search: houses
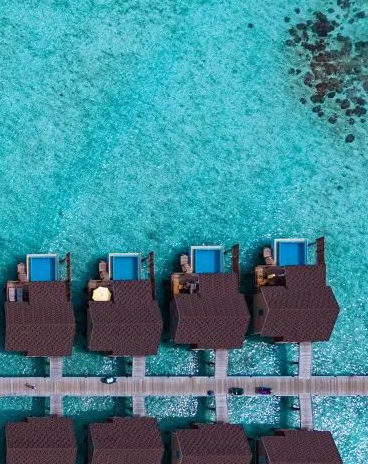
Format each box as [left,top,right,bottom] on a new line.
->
[249,432,342,464]
[4,251,76,357]
[246,236,339,341]
[84,250,163,356]
[168,425,253,464]
[164,243,250,348]
[6,417,77,464]
[87,418,165,464]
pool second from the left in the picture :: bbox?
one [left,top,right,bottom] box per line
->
[107,253,141,282]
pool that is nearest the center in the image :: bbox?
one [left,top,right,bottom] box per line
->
[187,246,223,275]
